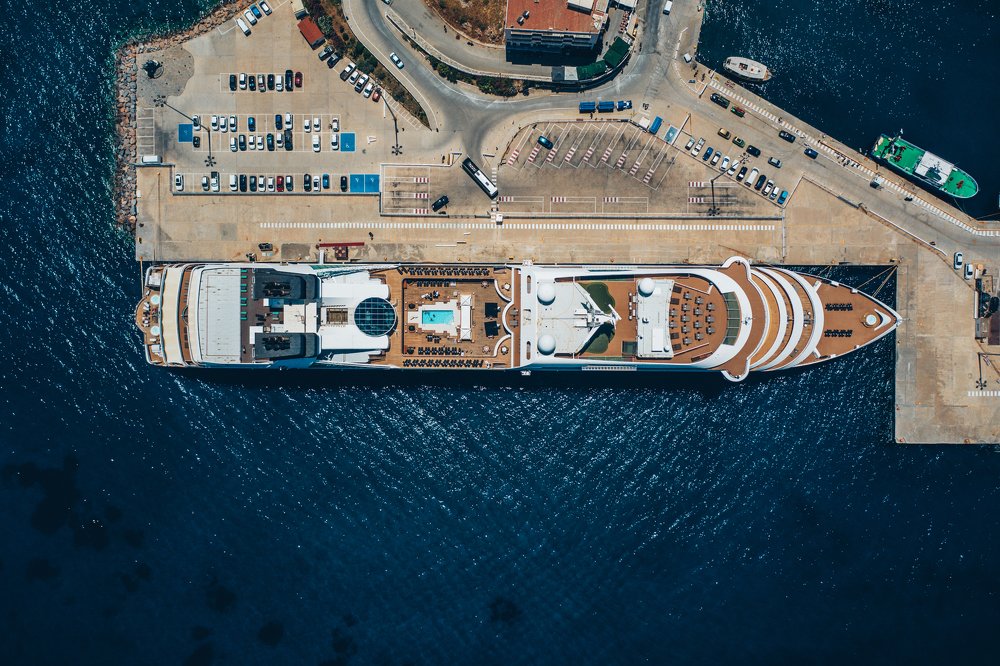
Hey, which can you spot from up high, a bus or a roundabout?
bus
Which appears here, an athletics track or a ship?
ship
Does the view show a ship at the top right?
Yes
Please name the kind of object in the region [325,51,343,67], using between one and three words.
vehicle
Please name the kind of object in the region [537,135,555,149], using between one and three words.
car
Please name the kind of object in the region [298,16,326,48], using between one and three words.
shed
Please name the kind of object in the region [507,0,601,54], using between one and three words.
building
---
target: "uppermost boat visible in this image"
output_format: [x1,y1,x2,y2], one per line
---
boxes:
[724,56,774,81]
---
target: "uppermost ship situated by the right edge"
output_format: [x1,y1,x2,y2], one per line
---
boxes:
[869,130,979,198]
